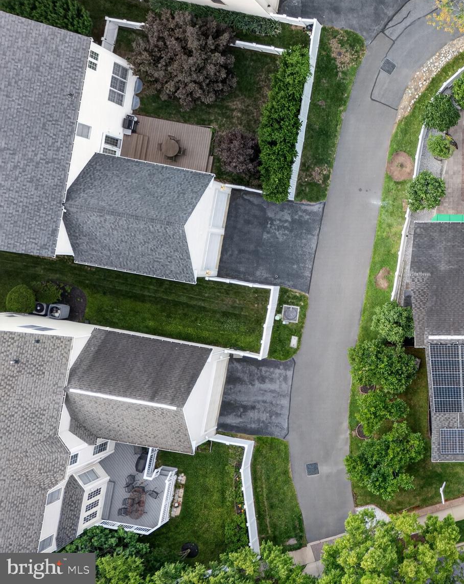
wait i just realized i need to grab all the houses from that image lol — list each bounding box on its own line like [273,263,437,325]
[188,0,280,16]
[0,323,228,569]
[0,10,231,284]
[401,220,464,463]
